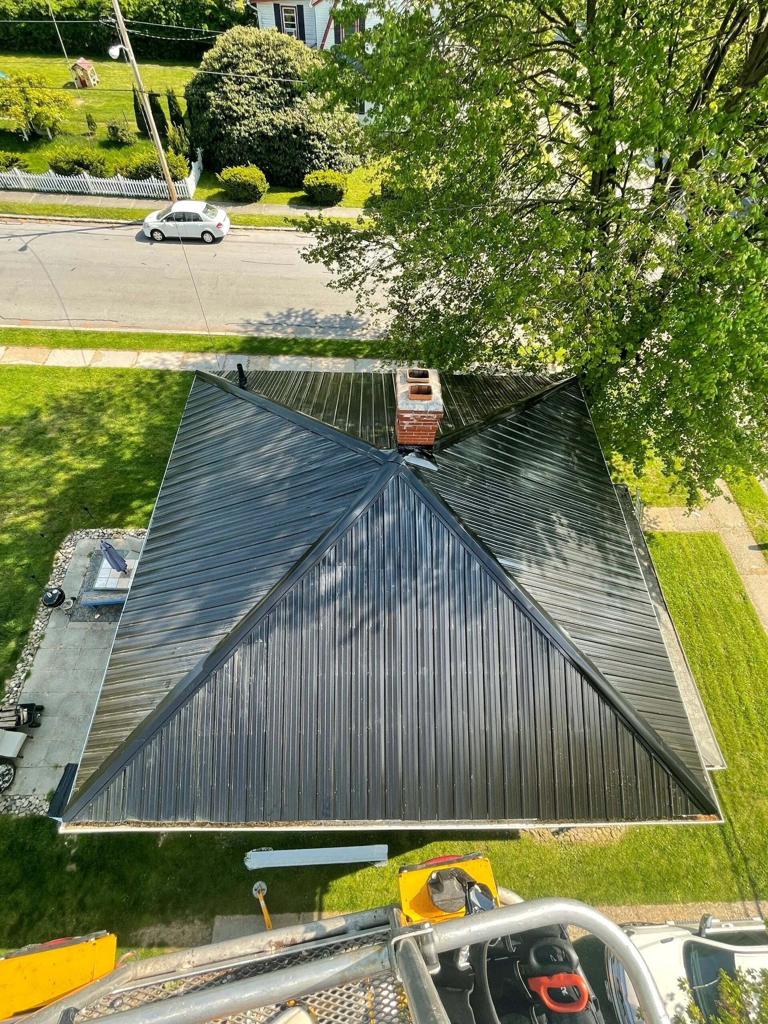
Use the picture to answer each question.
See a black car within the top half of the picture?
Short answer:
No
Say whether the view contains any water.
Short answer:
No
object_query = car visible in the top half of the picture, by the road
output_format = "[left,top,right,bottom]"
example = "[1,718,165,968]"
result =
[139,197,229,242]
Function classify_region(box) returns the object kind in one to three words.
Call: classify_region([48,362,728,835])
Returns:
house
